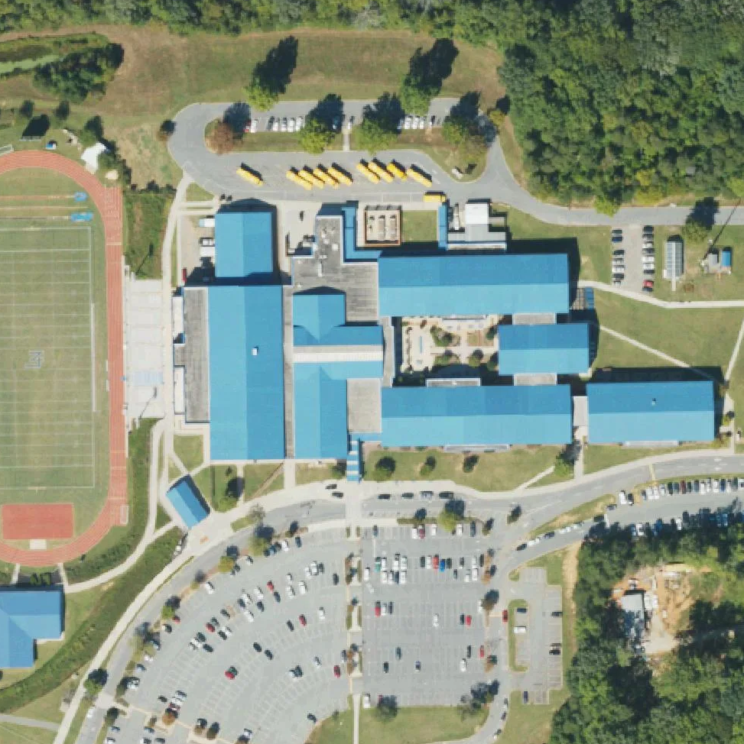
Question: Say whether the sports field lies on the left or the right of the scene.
left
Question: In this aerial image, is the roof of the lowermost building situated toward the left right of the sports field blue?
Yes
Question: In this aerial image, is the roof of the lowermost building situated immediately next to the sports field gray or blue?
blue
